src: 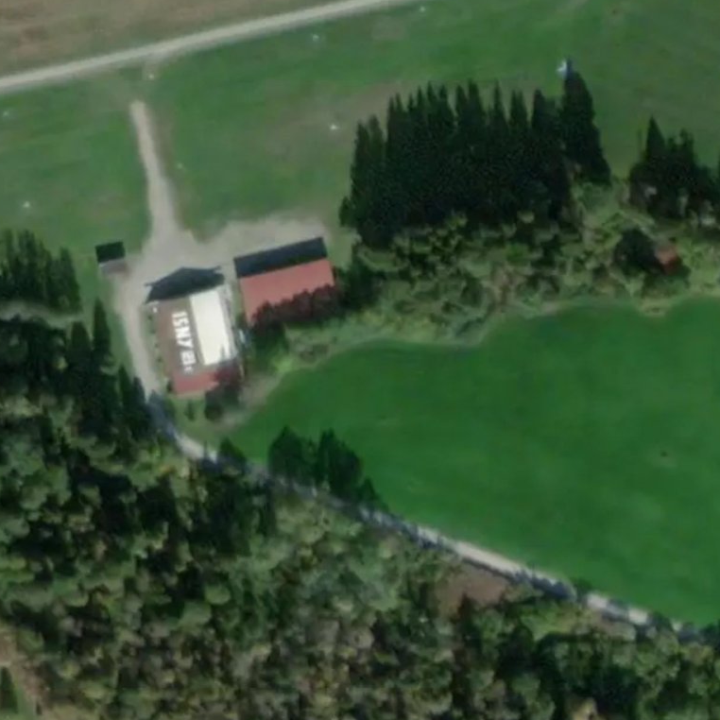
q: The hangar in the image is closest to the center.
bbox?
[238,257,340,327]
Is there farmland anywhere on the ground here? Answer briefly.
Yes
